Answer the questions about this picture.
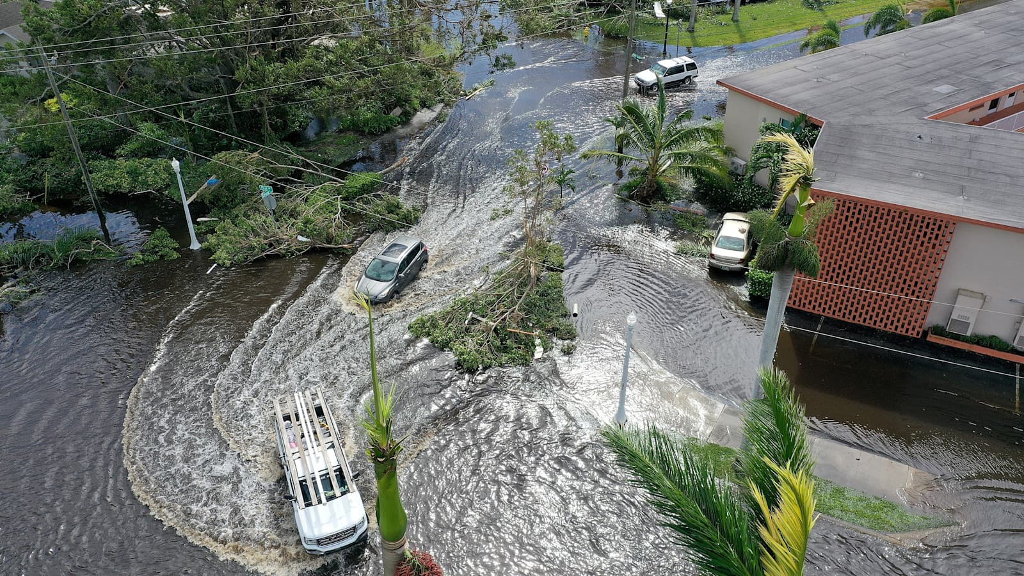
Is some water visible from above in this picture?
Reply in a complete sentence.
Yes, there is water in the image.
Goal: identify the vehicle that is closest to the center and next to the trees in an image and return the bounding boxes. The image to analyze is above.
[350,237,429,313]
